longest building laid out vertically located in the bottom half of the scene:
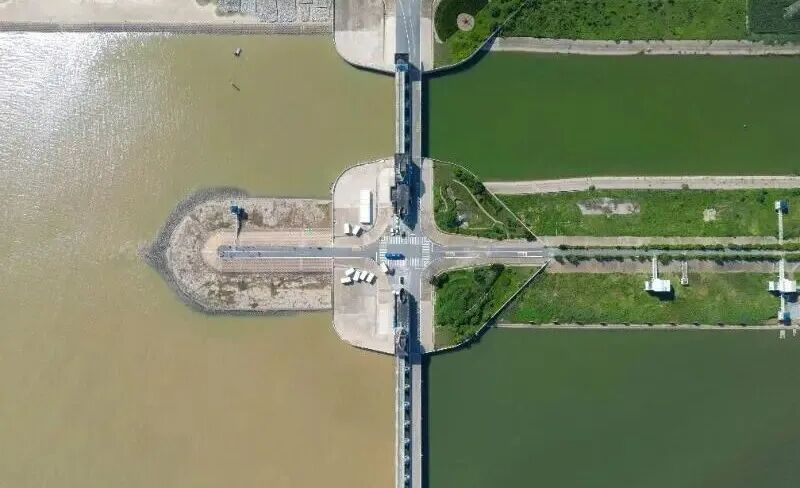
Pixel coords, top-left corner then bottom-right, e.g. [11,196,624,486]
[393,287,409,354]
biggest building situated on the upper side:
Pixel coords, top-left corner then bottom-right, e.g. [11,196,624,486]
[391,154,411,222]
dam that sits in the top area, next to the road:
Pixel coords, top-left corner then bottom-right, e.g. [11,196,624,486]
[395,73,422,157]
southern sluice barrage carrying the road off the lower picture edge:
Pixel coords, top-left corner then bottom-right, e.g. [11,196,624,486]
[395,354,422,488]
